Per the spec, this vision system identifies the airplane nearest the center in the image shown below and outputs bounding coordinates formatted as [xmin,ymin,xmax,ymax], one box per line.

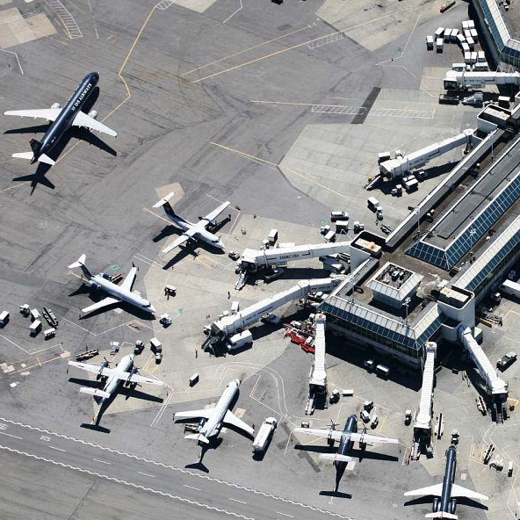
[154,193,231,252]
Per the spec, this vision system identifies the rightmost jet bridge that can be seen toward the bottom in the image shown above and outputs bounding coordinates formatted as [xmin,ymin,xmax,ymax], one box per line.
[461,322,507,423]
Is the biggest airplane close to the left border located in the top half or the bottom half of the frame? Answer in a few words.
top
